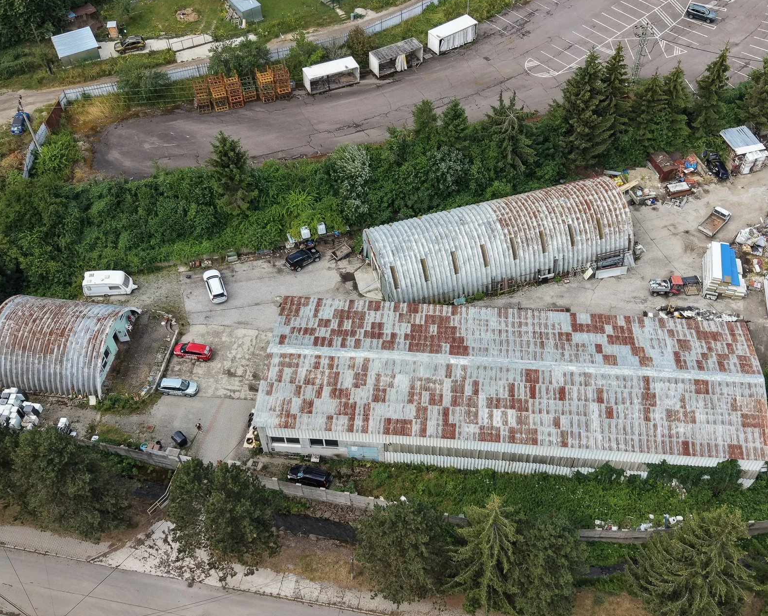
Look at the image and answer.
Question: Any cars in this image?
Yes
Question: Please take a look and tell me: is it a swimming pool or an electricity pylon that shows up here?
electricity pylon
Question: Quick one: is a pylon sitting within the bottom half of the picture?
No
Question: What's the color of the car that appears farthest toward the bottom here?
black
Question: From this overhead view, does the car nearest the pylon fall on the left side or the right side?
right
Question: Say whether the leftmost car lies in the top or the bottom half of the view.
top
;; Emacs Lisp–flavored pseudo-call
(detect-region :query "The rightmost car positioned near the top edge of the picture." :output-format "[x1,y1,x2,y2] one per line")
[686,2,717,23]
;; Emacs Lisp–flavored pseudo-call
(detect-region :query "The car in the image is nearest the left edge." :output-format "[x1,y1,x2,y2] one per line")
[5,112,27,133]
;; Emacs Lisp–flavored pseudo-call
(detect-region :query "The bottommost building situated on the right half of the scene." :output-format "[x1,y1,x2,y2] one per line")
[253,295,768,487]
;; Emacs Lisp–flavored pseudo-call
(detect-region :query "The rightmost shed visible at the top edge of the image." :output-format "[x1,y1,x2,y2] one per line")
[228,0,262,23]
